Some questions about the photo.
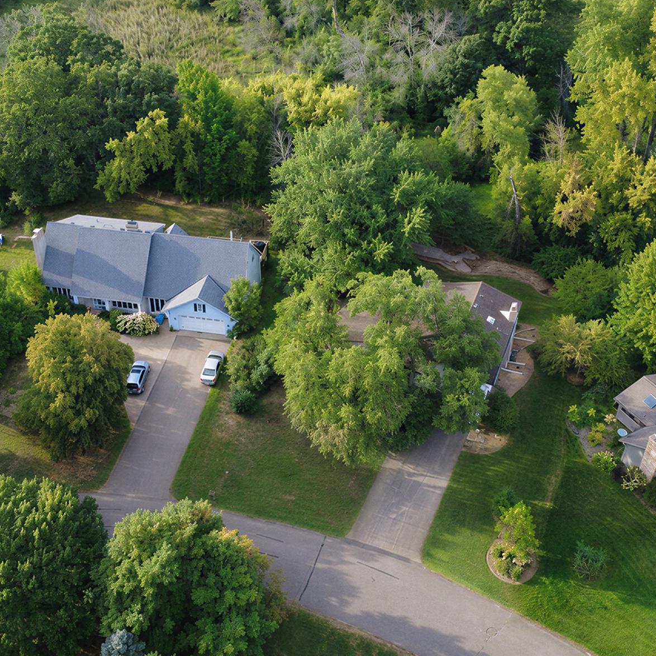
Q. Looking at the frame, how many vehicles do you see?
two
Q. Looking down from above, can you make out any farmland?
No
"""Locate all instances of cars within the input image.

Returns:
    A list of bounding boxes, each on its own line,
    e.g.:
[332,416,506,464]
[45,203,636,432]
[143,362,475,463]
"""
[126,358,150,393]
[199,350,222,385]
